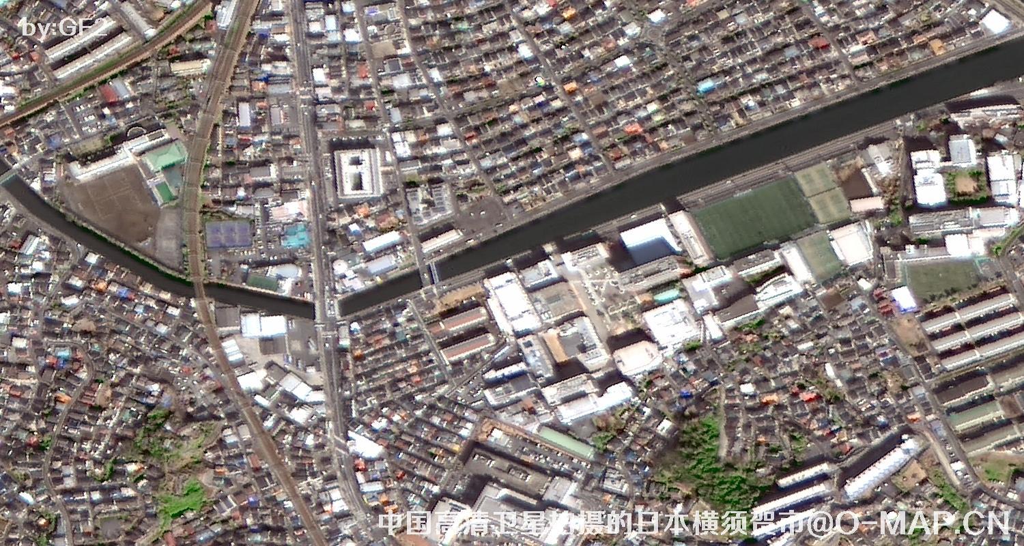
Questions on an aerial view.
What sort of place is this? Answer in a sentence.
The picture captures a residential area.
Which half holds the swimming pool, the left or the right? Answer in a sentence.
The swimming pool appears in the left half of the scene.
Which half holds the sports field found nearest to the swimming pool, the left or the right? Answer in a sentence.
The sports field found nearest to the swimming pool appears in the left half of the scene.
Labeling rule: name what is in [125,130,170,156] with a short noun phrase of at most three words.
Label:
building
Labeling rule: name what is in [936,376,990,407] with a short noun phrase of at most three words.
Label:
building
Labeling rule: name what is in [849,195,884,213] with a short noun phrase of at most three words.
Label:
shed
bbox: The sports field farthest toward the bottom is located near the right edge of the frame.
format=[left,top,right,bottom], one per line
[903,256,981,302]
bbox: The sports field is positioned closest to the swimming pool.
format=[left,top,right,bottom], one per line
[63,164,160,244]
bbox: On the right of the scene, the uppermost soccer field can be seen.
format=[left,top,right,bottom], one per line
[692,176,818,259]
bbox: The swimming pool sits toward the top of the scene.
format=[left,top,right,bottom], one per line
[154,179,175,205]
